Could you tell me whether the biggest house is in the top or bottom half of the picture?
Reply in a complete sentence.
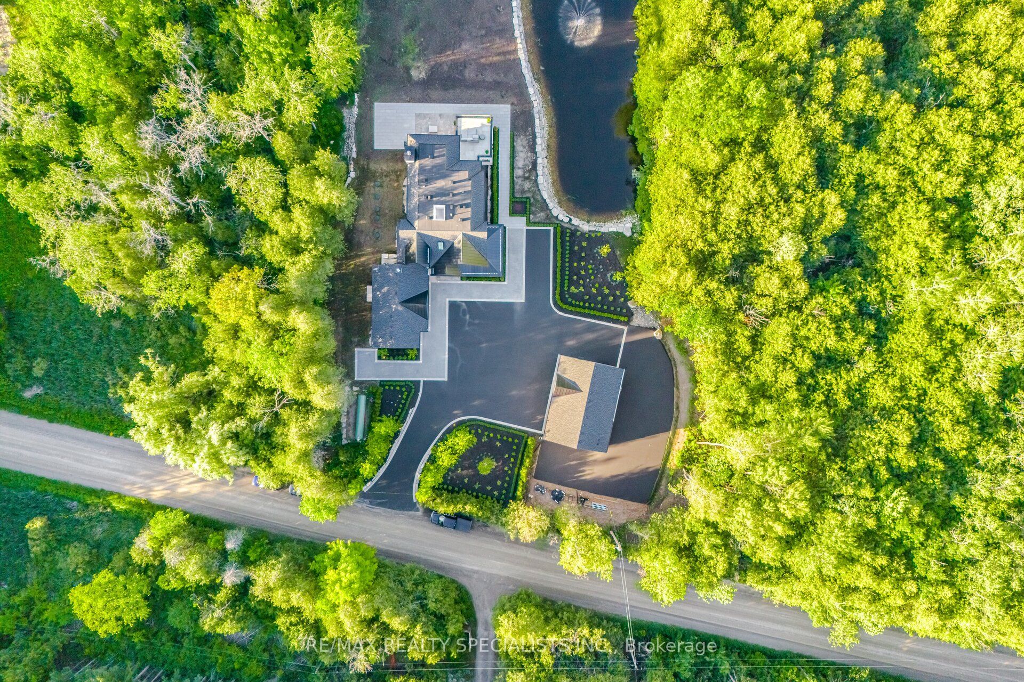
It is in the top half that the biggest house appears.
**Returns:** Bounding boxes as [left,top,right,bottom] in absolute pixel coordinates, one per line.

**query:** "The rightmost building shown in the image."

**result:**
[543,355,625,453]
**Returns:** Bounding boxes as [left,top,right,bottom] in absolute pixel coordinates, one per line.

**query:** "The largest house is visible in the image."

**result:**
[371,115,504,348]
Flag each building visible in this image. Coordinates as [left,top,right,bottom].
[543,355,625,453]
[371,115,504,348]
